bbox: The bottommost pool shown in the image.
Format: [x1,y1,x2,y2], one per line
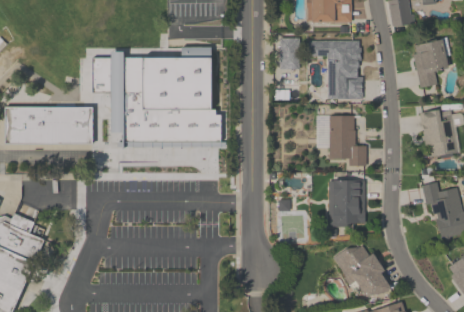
[327,282,348,300]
